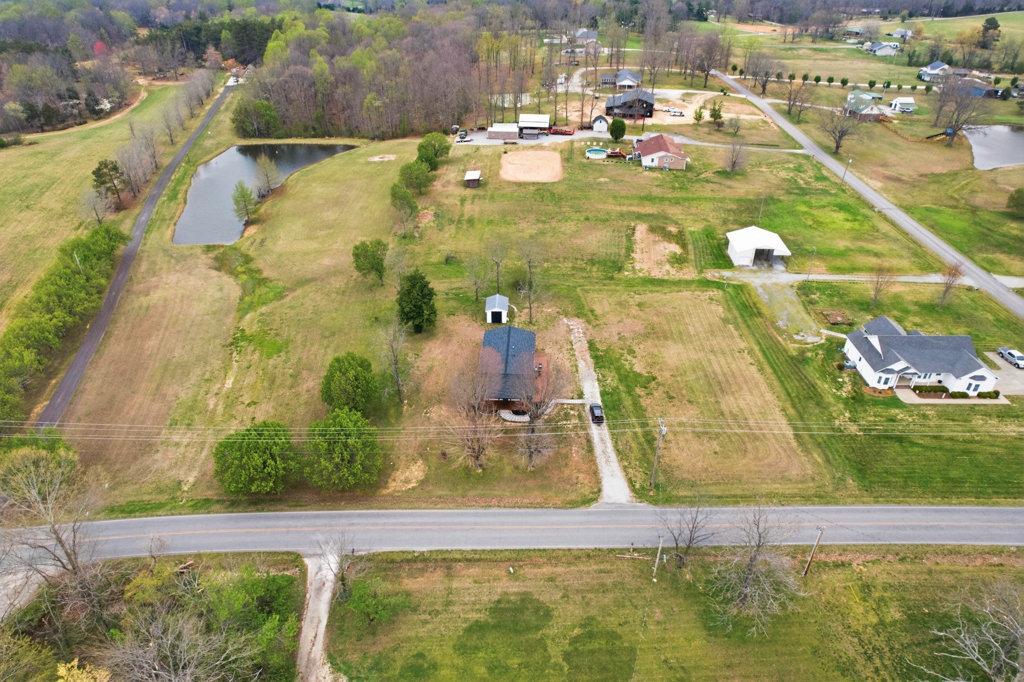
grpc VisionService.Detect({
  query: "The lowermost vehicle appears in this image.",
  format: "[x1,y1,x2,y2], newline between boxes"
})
[587,399,607,421]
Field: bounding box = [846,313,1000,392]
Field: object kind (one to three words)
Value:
house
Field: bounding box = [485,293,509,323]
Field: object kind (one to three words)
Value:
shed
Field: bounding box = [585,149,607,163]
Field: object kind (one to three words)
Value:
swimming pool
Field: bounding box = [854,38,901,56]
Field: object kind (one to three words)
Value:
house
